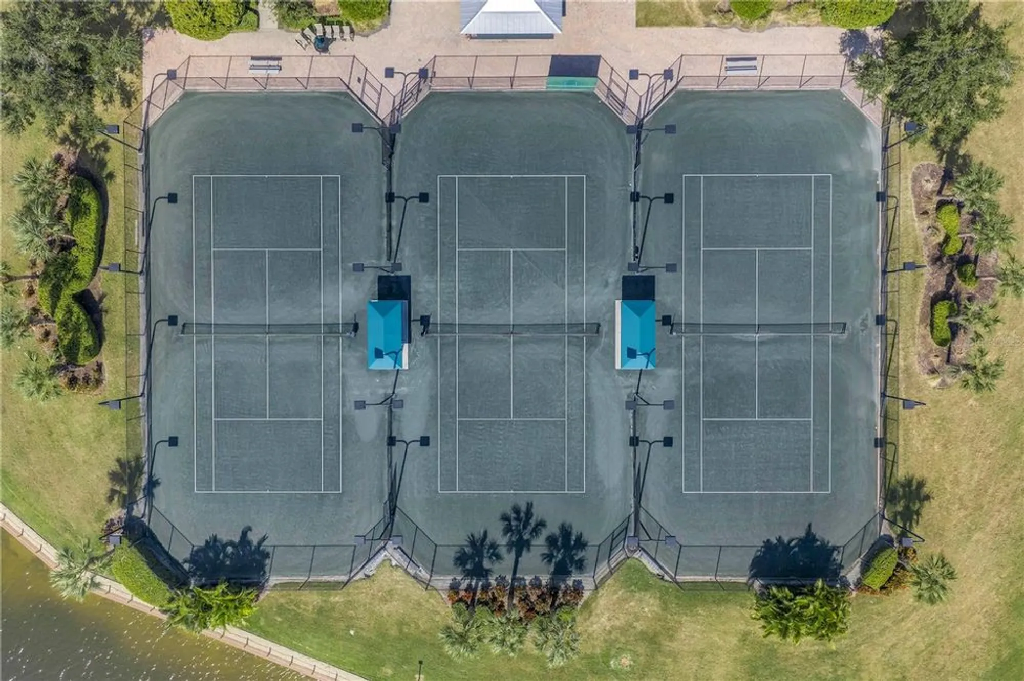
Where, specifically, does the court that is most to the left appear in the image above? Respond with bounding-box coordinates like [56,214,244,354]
[145,89,390,579]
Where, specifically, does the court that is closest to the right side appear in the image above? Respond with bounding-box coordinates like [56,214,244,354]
[634,88,882,579]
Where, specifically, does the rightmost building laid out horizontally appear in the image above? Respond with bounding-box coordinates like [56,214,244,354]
[461,0,562,41]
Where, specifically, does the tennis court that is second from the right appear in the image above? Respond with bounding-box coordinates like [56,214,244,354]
[389,89,634,579]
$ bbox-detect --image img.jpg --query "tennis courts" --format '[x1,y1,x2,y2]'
[389,89,634,579]
[145,89,390,579]
[634,88,882,579]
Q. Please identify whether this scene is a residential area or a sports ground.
sports ground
